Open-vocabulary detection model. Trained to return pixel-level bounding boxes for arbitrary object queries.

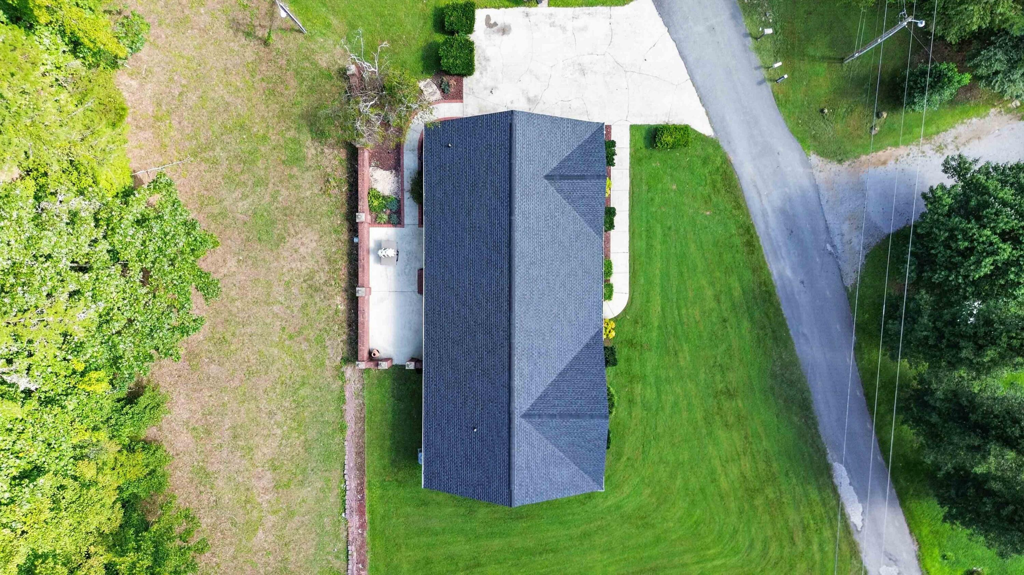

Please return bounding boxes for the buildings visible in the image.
[421,110,609,507]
